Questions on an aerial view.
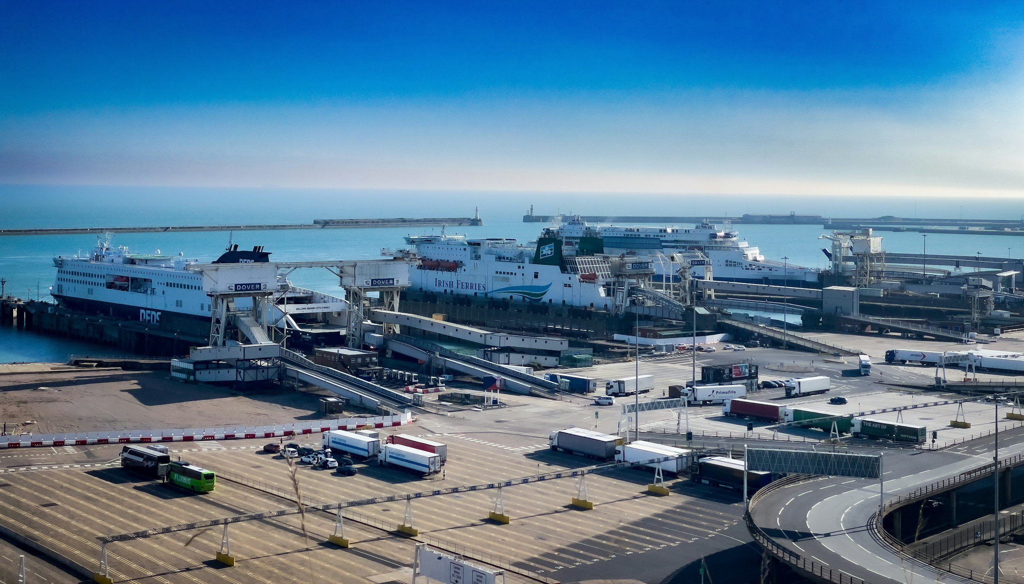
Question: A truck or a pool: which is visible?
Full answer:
The one in the frame is a truck.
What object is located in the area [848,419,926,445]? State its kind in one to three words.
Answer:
truck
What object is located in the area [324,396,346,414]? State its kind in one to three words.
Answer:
building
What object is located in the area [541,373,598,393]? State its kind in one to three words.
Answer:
vehicle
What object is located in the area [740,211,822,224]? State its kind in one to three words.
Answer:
shed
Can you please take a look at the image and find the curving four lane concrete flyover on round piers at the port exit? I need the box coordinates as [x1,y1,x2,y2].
[609,422,1024,584]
